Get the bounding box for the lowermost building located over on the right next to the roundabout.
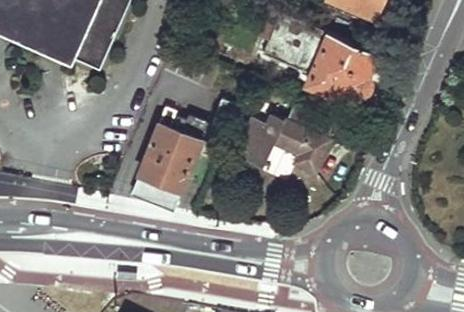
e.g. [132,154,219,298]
[246,114,334,176]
